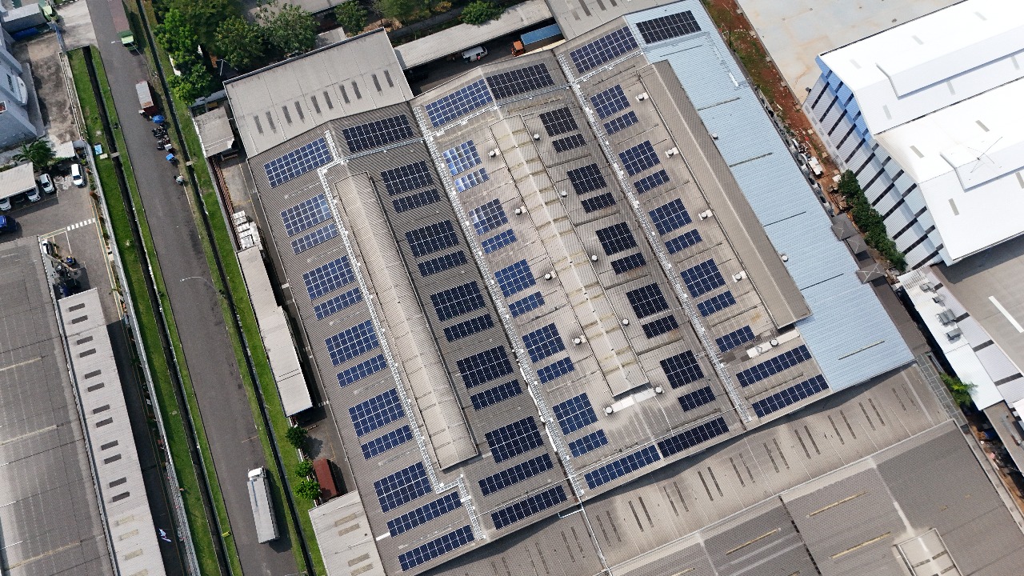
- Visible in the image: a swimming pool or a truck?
truck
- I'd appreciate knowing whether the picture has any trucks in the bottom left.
Yes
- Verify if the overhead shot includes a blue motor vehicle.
Yes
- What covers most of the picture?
buildings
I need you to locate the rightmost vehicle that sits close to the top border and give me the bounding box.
[513,26,555,54]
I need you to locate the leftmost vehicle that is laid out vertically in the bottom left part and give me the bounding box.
[249,464,285,541]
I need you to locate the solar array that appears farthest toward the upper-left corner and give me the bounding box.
[264,138,330,186]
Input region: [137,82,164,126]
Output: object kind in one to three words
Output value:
truck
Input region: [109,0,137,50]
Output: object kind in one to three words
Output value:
truck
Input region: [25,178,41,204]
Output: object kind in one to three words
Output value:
car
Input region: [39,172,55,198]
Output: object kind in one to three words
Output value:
car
